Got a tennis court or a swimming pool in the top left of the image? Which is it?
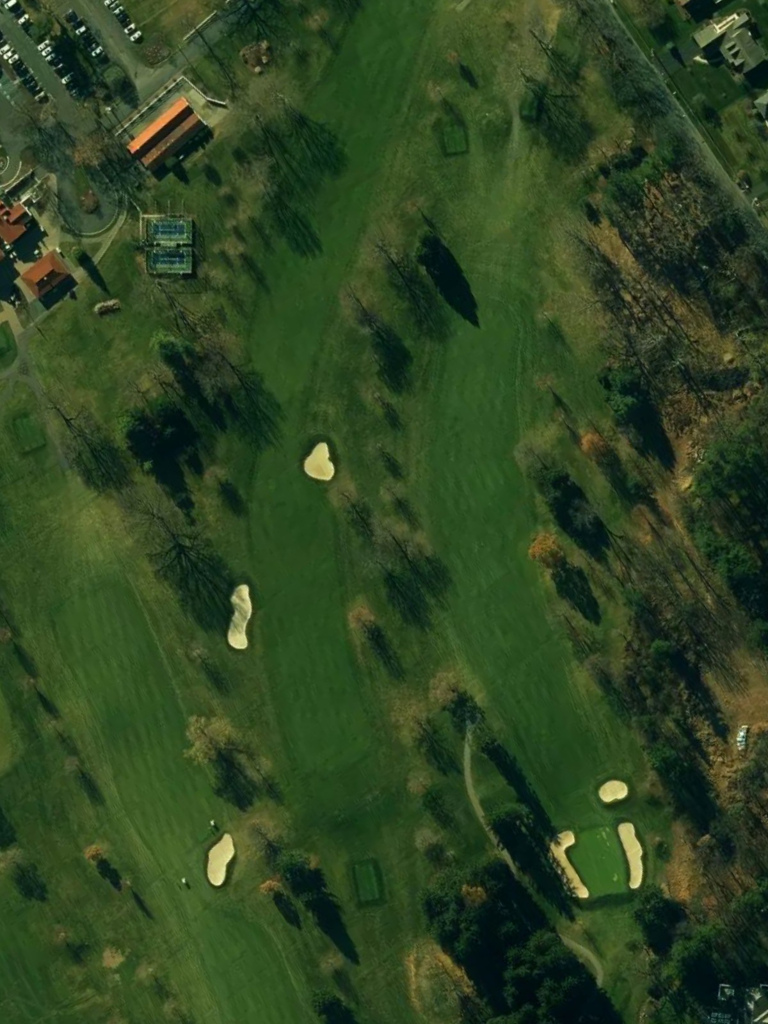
tennis court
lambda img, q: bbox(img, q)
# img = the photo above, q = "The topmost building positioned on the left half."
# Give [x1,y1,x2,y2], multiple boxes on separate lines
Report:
[128,97,206,171]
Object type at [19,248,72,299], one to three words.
building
